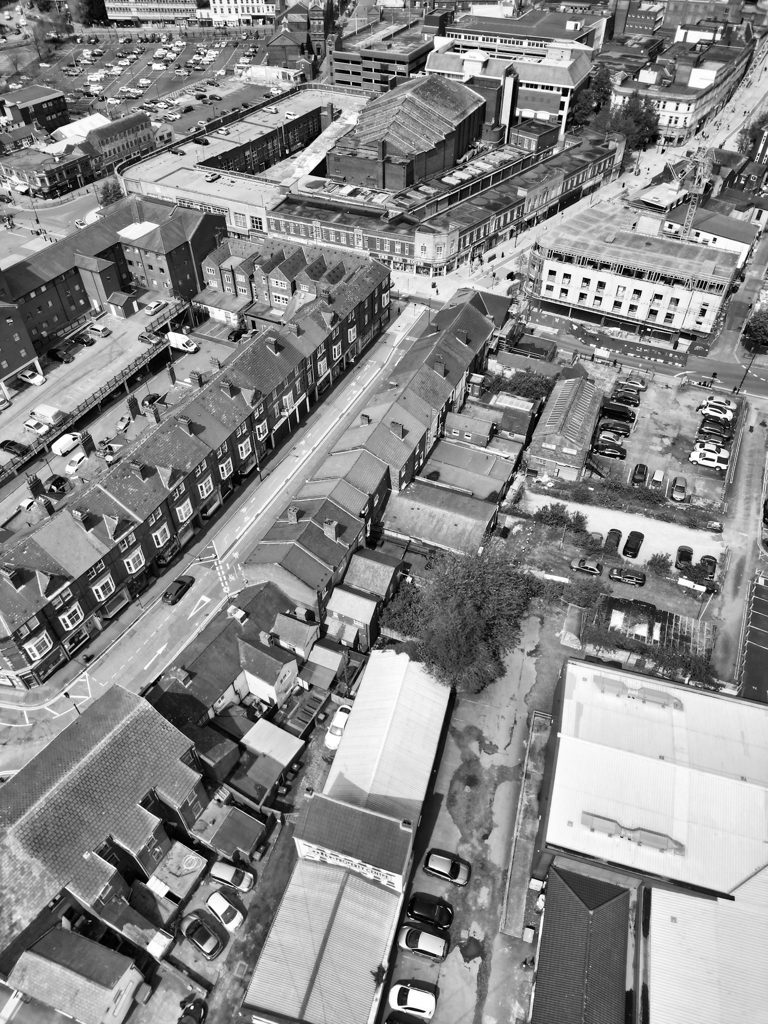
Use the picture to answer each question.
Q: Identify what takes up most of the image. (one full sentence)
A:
The scene is dominated by buildings.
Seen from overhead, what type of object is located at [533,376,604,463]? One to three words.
building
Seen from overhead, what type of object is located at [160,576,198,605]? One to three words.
car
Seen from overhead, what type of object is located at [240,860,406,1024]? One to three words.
shed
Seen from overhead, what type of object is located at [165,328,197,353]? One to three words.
vehicle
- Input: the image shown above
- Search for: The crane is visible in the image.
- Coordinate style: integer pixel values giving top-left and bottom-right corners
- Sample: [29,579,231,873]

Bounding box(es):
[674,80,768,240]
